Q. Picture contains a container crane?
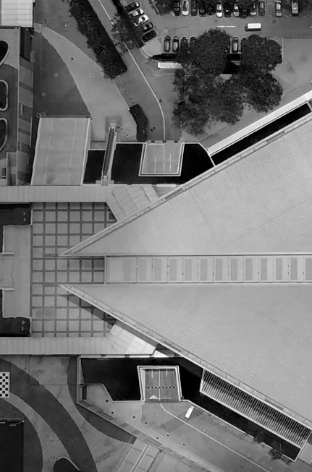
No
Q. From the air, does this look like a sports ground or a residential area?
sports ground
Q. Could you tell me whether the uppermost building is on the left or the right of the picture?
left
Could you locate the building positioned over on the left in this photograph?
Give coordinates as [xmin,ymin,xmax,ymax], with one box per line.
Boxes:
[31,117,96,186]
